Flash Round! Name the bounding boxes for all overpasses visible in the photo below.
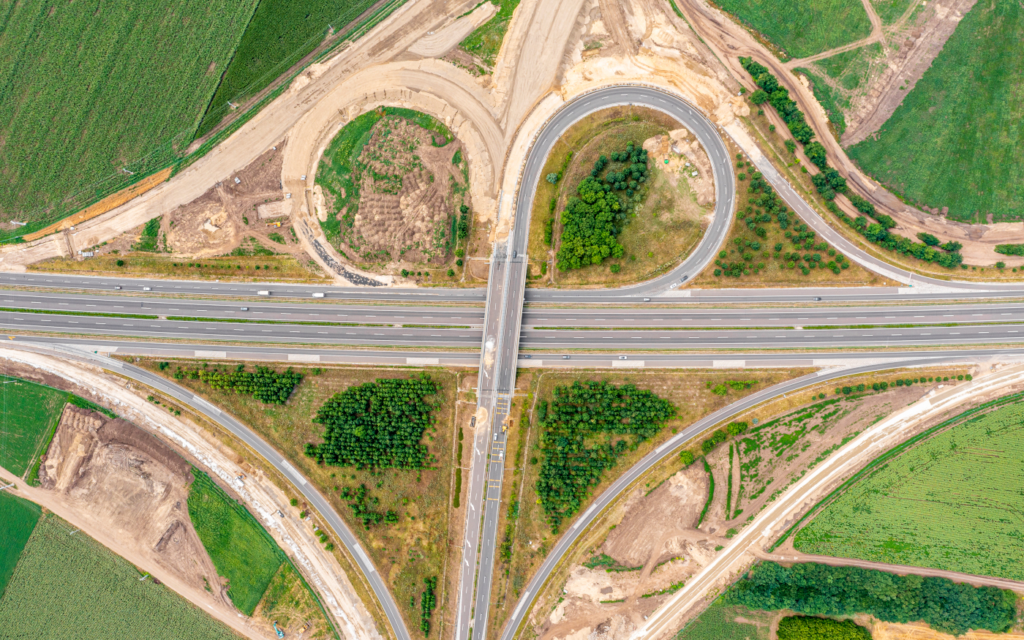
[471,250,536,402]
